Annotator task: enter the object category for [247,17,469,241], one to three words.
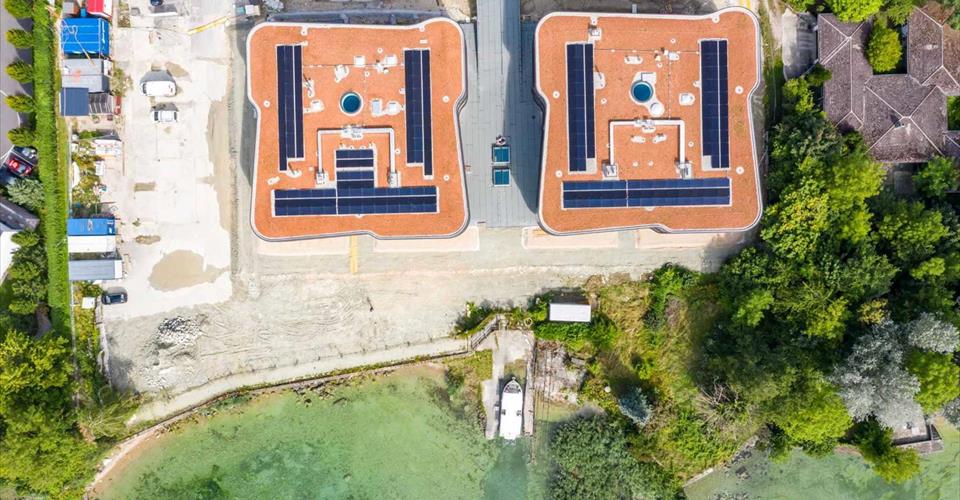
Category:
building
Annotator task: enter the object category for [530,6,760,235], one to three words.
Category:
building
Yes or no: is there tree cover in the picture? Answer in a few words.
Yes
